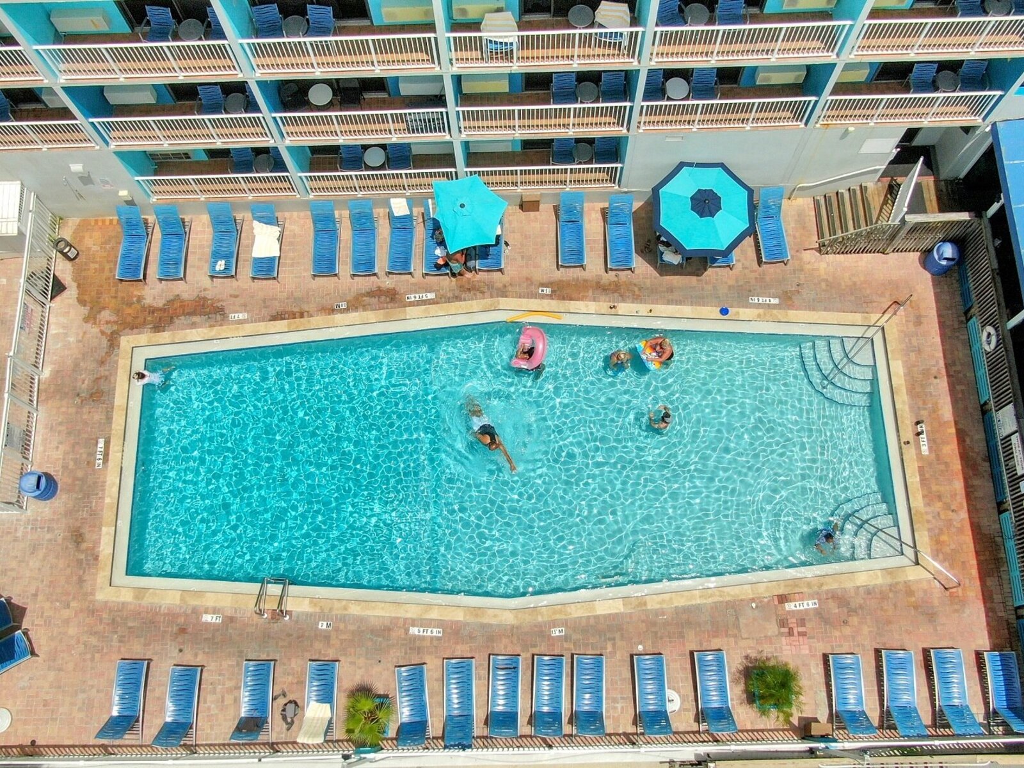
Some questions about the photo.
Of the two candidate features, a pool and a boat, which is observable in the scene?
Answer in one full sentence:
The one in the frame is a pool.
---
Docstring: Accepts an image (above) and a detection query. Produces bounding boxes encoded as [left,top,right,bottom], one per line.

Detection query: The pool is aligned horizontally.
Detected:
[95,298,935,623]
